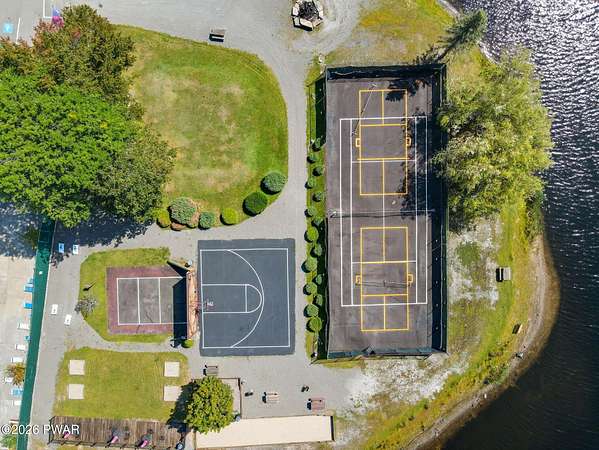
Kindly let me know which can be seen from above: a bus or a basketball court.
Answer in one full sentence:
I can see a basketball court in this picture.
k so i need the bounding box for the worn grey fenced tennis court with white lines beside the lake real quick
[326,70,441,353]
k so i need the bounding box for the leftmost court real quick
[106,266,197,335]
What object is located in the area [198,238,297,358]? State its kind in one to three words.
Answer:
basketball court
